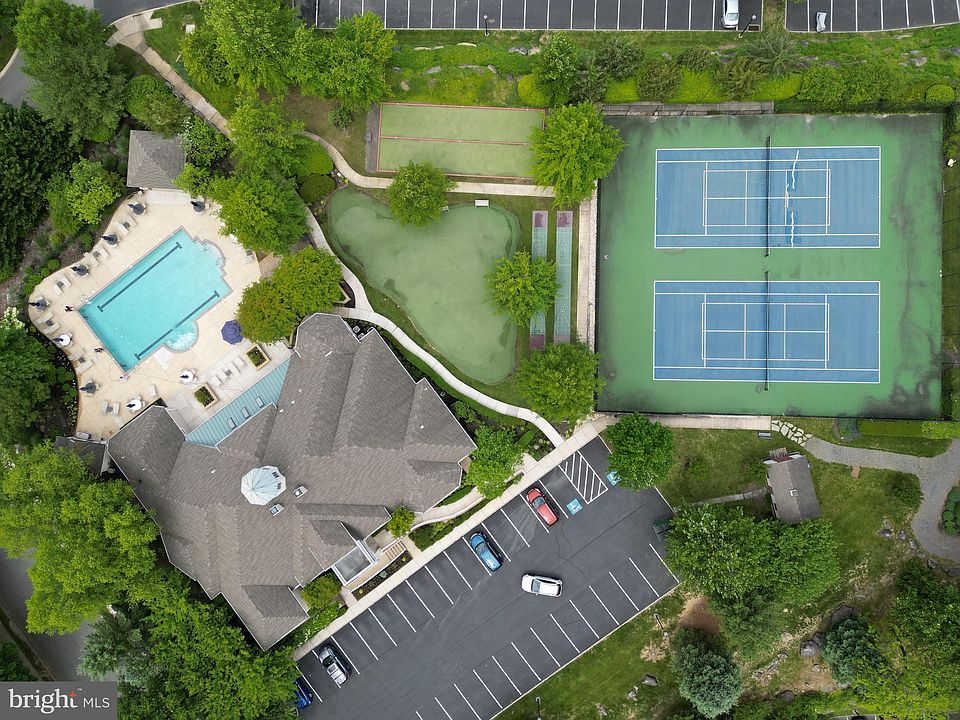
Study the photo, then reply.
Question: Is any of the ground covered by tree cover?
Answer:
Yes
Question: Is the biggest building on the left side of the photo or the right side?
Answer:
left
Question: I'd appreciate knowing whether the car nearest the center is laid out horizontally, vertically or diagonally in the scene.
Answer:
diagonally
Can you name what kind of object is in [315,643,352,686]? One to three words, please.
car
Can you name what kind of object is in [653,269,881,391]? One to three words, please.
tennis court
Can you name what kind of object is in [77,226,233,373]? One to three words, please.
swimming pool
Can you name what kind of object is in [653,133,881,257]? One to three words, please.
tennis court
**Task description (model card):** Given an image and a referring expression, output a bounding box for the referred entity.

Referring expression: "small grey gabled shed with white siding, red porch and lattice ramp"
[764,448,821,524]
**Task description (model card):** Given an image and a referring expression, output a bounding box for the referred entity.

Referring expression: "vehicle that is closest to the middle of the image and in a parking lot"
[525,487,560,525]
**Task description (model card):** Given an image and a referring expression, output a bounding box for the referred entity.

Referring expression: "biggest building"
[104,311,475,652]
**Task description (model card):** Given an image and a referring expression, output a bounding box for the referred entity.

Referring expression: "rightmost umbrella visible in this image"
[221,320,245,343]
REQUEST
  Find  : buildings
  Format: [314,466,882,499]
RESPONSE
[128,130,196,194]
[104,311,475,652]
[764,448,821,524]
